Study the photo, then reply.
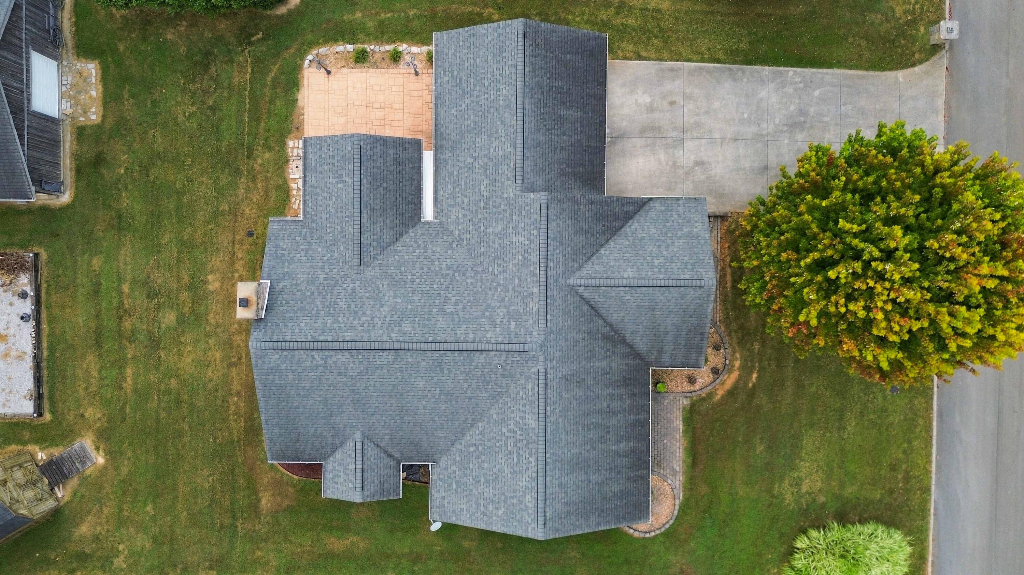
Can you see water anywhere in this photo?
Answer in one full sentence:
No, there is no water in the image.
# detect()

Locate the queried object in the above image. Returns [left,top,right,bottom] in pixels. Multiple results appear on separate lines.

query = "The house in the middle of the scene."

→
[237,18,716,539]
